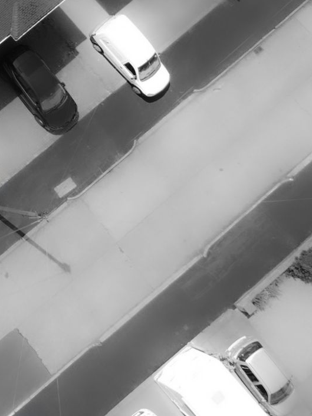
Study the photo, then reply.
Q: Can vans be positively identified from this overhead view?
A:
Yes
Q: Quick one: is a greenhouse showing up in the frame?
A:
No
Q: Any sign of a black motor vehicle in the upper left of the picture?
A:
Yes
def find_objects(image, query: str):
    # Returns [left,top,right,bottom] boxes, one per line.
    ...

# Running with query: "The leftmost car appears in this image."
[1,41,82,135]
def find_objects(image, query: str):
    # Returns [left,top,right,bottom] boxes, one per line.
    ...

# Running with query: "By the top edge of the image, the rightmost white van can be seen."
[90,10,174,100]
